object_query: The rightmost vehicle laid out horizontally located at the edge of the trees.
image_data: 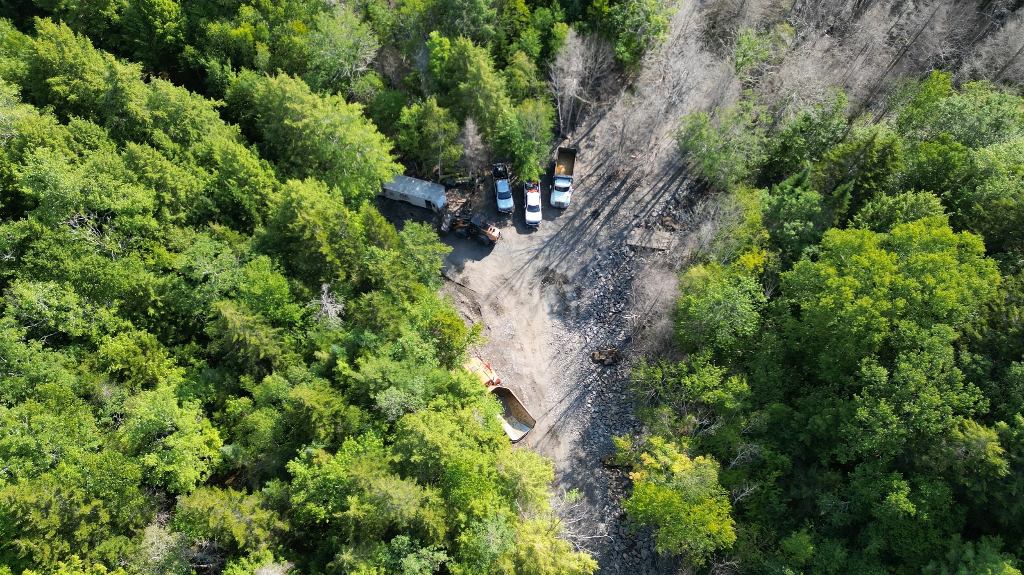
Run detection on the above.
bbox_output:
[440,215,502,246]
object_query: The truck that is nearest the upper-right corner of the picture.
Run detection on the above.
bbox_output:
[550,146,578,211]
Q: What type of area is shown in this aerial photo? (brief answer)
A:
forest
